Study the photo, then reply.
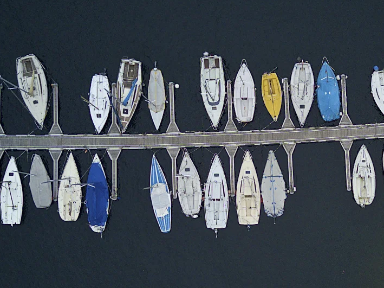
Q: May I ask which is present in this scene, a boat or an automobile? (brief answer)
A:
boat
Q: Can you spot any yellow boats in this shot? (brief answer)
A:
Yes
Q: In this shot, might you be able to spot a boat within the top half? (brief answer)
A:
Yes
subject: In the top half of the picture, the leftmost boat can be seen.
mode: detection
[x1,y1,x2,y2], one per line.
[0,52,49,134]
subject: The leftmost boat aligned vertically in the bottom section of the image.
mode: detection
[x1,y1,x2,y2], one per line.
[0,147,28,228]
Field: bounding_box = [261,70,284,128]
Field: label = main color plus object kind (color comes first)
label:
yellow boat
